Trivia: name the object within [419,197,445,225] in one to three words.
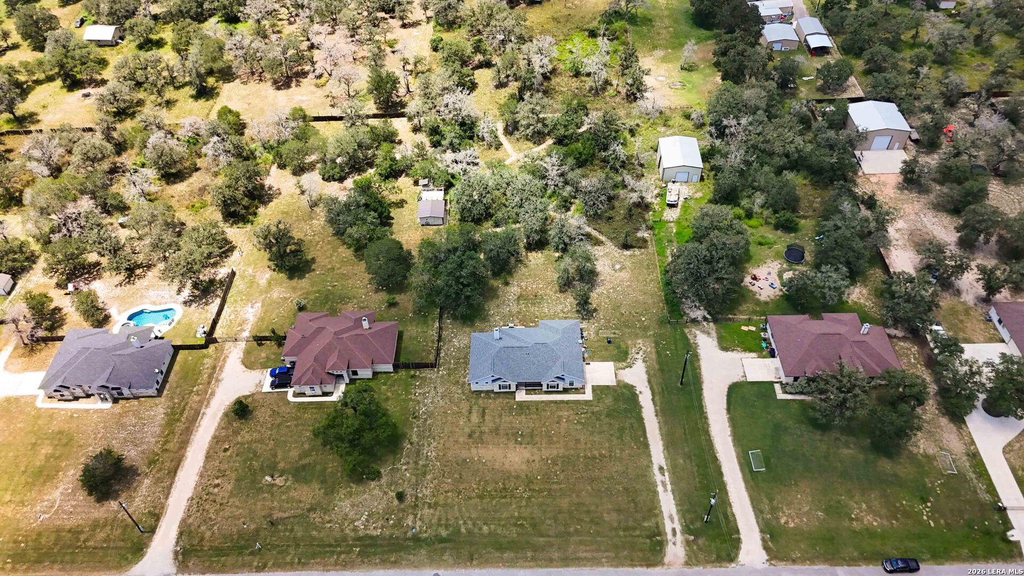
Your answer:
shed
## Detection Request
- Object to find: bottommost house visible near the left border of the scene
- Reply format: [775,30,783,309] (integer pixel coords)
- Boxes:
[39,326,174,402]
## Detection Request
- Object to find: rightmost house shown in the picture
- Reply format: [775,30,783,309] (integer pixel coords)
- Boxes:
[990,301,1024,362]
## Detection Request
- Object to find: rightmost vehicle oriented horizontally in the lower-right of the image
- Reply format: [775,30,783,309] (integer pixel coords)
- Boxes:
[878,558,923,575]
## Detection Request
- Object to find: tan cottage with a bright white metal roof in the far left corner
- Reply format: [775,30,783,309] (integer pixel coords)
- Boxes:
[80,23,126,47]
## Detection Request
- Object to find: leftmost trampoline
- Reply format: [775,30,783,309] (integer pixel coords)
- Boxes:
[783,244,805,265]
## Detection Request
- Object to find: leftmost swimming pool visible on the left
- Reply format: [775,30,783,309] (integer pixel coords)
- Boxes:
[112,303,183,340]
